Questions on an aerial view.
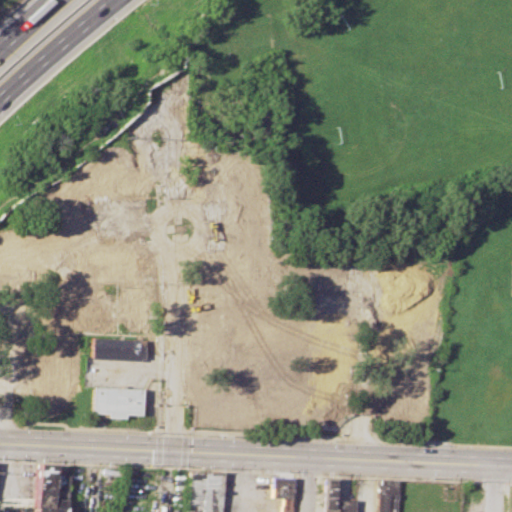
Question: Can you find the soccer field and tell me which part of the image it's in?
top right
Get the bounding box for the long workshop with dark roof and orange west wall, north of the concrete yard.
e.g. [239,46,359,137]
[90,338,148,362]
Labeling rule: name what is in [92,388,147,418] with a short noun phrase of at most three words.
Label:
building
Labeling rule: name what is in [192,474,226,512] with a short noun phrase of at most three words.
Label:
building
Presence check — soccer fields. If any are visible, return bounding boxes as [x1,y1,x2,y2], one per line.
[303,0,512,175]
